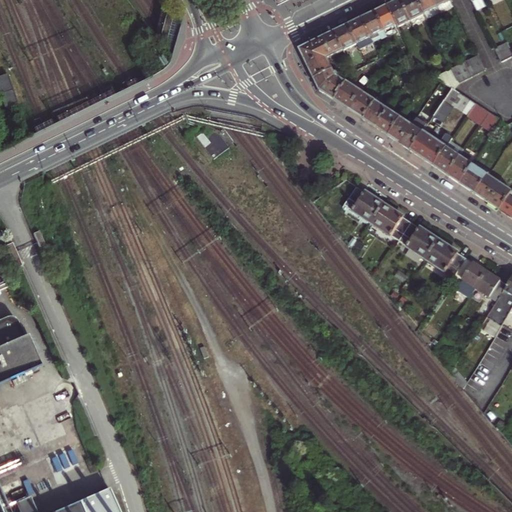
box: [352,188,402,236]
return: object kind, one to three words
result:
house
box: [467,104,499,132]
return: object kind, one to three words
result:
building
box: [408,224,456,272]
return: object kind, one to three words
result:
house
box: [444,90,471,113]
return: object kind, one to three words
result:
building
